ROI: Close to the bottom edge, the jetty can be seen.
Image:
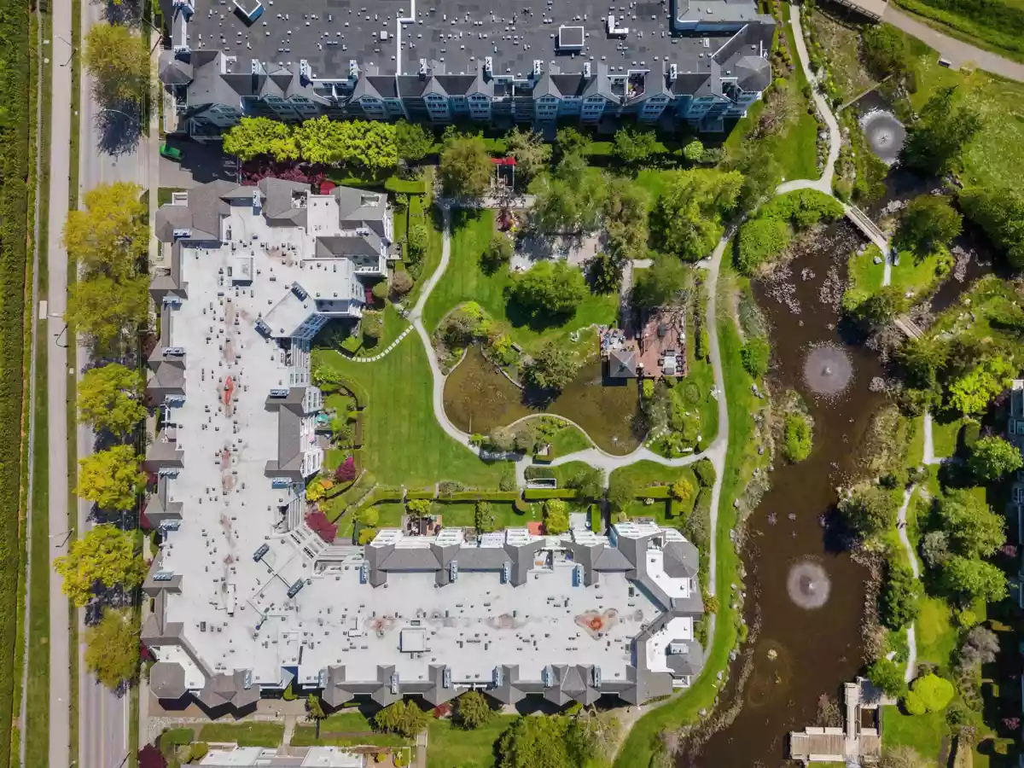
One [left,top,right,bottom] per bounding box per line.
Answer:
[789,678,898,768]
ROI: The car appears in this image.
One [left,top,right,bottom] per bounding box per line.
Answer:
[158,145,182,161]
